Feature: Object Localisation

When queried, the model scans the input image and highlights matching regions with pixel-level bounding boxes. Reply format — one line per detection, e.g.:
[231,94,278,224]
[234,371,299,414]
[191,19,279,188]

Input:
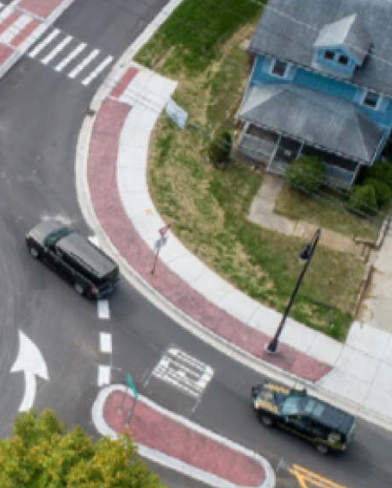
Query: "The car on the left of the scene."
[20,214,124,297]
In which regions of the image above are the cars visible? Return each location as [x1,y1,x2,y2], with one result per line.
[20,214,124,297]
[248,376,367,461]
